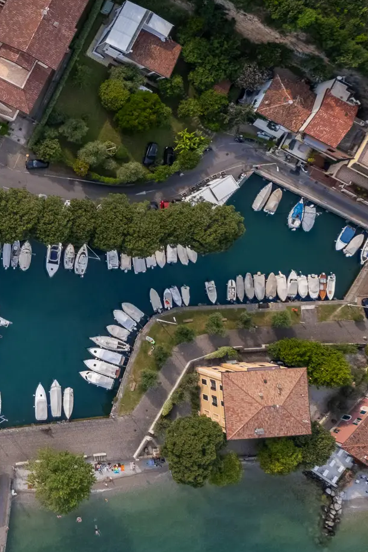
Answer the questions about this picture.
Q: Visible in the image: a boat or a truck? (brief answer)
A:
boat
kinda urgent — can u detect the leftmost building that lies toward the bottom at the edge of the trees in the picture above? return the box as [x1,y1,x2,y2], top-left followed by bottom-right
[197,362,313,441]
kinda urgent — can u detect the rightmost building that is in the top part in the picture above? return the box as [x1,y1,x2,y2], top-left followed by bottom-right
[331,117,368,192]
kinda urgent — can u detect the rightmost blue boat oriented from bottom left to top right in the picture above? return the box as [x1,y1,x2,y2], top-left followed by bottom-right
[336,225,355,249]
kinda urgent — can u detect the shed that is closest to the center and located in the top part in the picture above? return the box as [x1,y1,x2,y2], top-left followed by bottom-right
[180,175,239,208]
